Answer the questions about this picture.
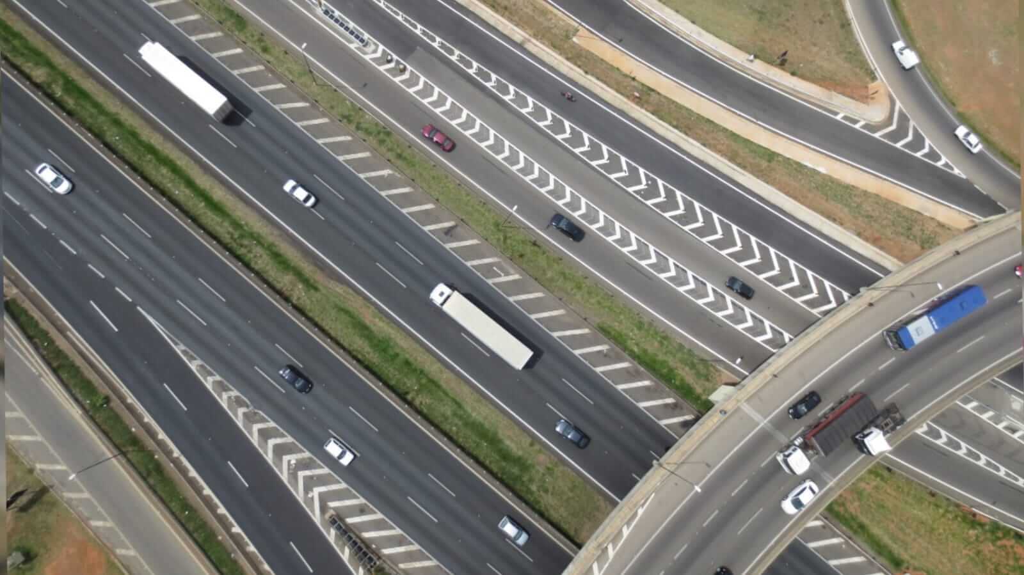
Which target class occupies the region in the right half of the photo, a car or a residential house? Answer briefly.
car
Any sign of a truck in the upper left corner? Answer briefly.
Yes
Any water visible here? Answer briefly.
No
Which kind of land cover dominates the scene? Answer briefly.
paved ground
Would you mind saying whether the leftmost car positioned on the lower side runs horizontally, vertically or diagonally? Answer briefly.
diagonally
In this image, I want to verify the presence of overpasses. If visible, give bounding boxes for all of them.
[564,213,1024,575]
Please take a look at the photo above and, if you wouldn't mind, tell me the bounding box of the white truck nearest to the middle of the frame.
[427,282,533,371]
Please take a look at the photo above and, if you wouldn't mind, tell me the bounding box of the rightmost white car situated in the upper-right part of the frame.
[953,124,983,153]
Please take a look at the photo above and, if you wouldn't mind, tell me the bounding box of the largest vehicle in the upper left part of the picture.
[140,42,239,125]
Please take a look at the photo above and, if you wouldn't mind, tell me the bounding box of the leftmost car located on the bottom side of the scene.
[279,364,313,394]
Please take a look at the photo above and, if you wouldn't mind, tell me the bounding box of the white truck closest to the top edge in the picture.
[890,38,921,71]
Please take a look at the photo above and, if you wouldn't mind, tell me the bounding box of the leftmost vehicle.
[35,162,74,195]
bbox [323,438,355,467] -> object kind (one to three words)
car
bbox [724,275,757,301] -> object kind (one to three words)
car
